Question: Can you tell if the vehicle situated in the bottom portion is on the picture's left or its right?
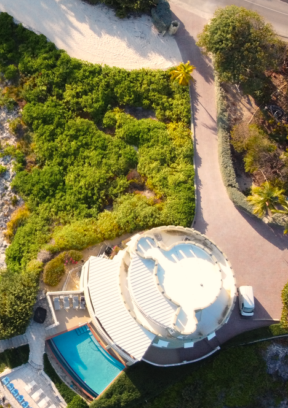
right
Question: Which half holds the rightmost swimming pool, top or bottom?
bottom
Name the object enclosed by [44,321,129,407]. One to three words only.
swimming pool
